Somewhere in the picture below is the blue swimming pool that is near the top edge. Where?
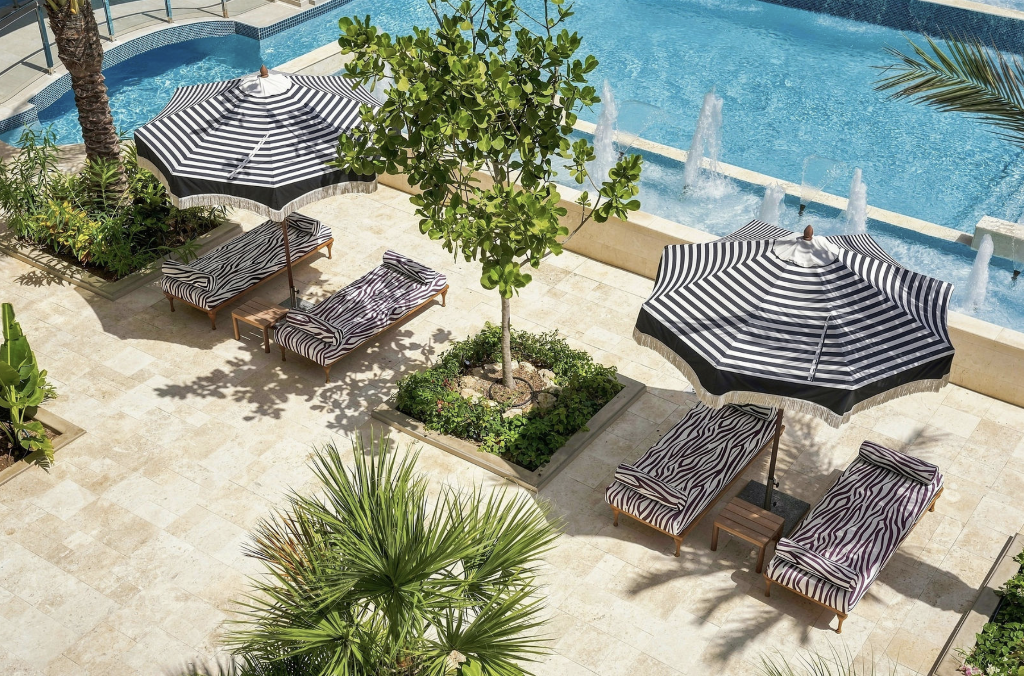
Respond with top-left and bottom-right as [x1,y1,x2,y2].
[0,0,1024,235]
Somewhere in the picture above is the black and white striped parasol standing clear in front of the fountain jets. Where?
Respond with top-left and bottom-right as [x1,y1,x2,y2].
[634,221,953,539]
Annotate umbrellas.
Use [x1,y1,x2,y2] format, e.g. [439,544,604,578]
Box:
[137,63,387,322]
[634,221,953,539]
